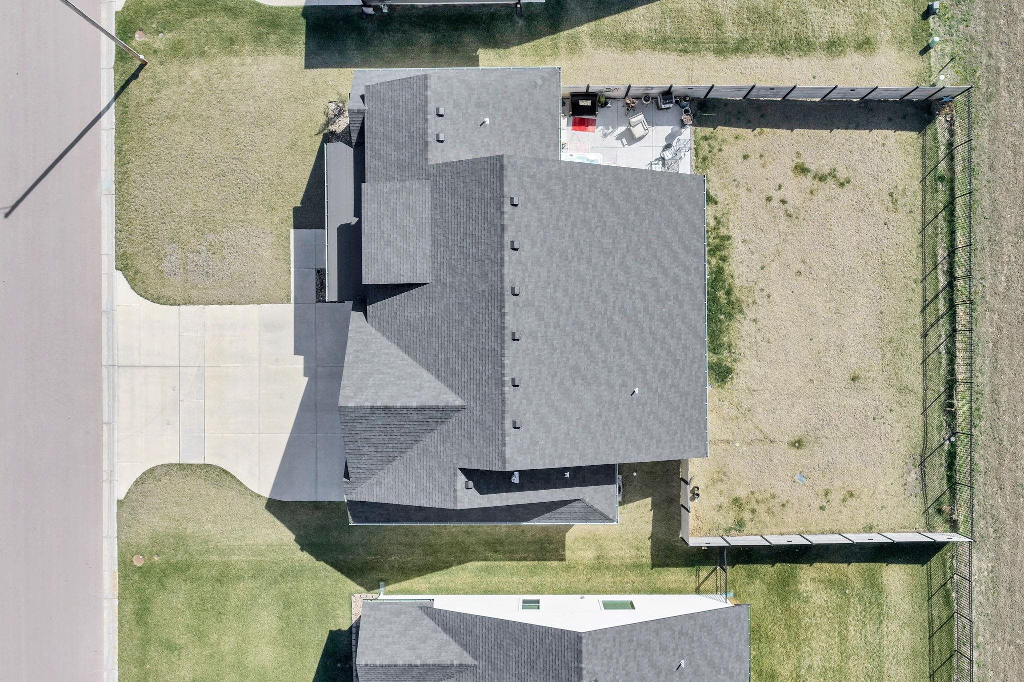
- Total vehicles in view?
0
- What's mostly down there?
grass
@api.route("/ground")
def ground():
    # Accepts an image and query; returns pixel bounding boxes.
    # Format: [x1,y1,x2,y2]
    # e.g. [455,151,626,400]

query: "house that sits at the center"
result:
[324,65,708,525]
